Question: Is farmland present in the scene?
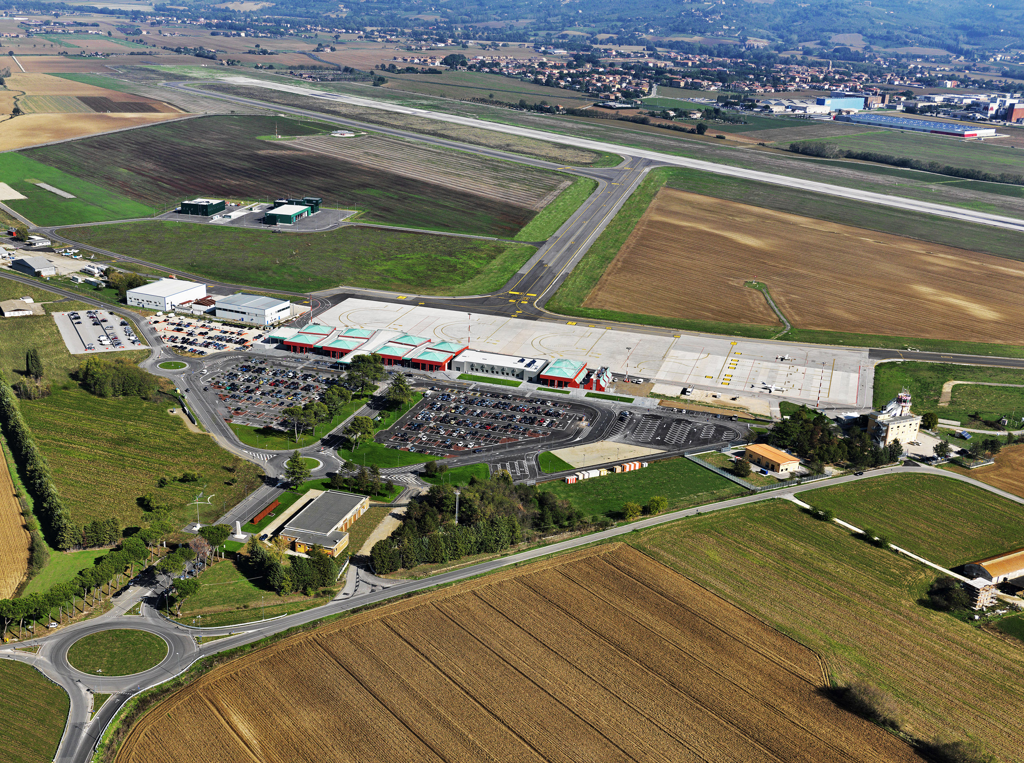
Yes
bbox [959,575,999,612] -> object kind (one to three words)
house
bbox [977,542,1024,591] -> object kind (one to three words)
building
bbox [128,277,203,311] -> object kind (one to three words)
hangar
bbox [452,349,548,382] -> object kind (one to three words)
building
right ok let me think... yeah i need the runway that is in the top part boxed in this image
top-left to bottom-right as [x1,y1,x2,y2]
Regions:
[217,77,1024,231]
